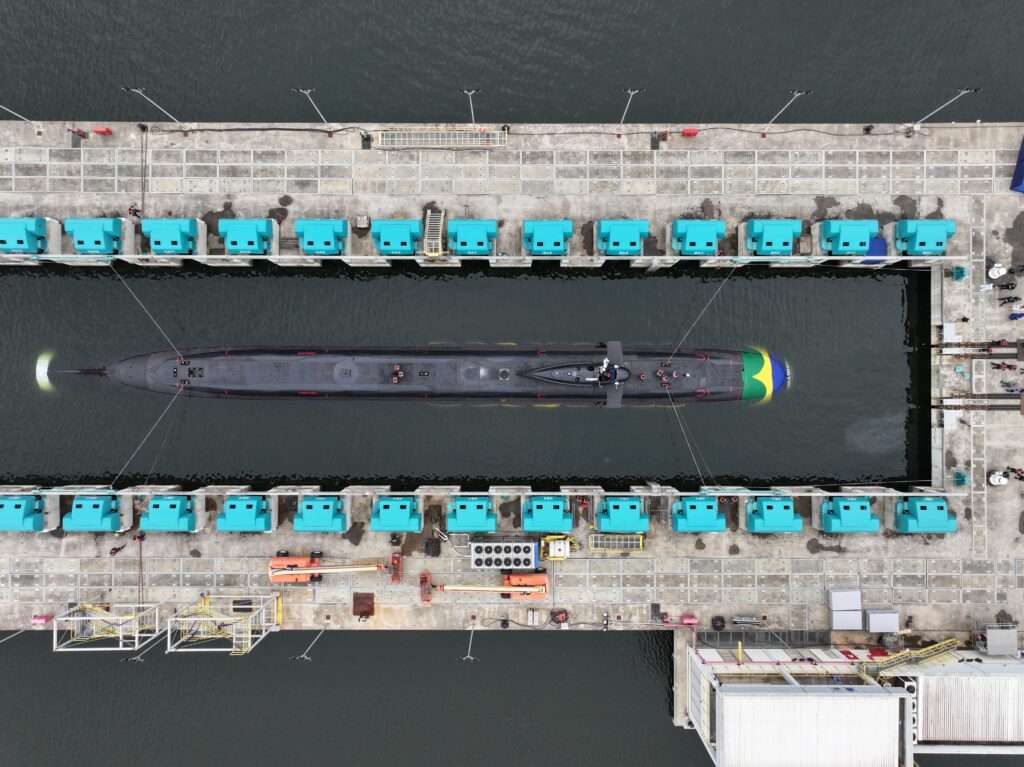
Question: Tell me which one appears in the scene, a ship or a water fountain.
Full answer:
Looking from above, you can make out a ship.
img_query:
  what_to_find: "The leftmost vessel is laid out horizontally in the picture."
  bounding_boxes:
[36,342,790,406]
